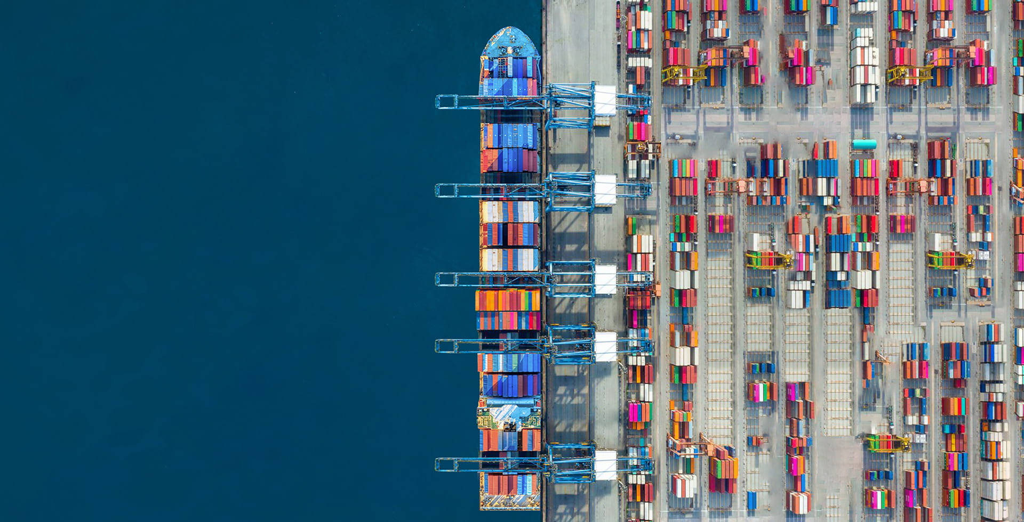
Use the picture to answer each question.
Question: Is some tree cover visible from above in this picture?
No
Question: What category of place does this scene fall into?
port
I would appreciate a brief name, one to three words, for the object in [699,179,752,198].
container crane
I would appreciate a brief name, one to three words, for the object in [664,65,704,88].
container crane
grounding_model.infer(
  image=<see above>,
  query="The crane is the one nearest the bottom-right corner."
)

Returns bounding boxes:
[859,431,912,452]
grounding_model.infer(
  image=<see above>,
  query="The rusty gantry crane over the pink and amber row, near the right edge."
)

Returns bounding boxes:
[923,45,977,68]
